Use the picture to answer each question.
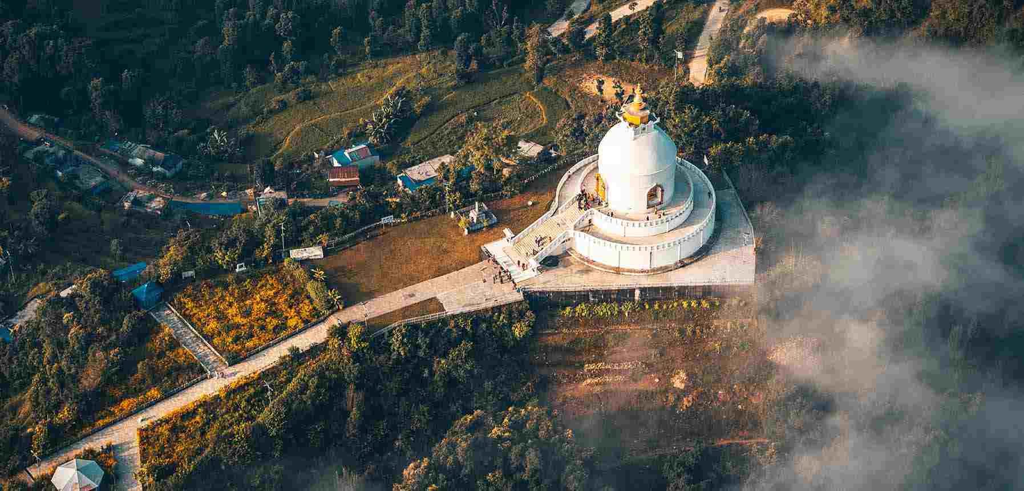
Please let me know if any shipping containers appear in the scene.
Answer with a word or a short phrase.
No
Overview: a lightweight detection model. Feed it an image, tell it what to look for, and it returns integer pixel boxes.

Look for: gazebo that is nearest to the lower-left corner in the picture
[49,459,106,491]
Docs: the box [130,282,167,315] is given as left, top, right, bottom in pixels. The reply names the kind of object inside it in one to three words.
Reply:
building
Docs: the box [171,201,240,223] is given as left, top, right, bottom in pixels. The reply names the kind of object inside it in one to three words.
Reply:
shed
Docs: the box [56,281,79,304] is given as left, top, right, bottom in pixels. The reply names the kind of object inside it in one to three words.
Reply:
shed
